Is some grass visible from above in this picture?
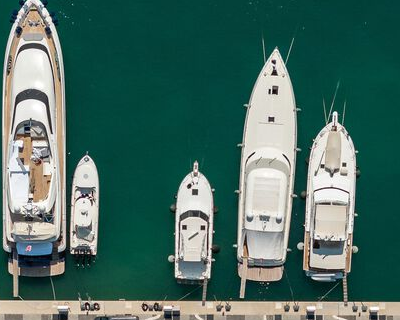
No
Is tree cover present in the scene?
No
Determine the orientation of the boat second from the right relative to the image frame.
vertically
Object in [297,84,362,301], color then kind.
white boat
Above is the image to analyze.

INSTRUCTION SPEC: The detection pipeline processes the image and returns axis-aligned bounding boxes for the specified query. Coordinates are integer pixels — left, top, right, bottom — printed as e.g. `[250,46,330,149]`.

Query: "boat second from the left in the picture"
[71,151,100,266]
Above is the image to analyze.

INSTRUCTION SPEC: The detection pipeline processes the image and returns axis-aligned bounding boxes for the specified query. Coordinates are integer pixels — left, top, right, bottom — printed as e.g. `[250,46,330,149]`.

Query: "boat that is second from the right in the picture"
[233,39,300,300]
